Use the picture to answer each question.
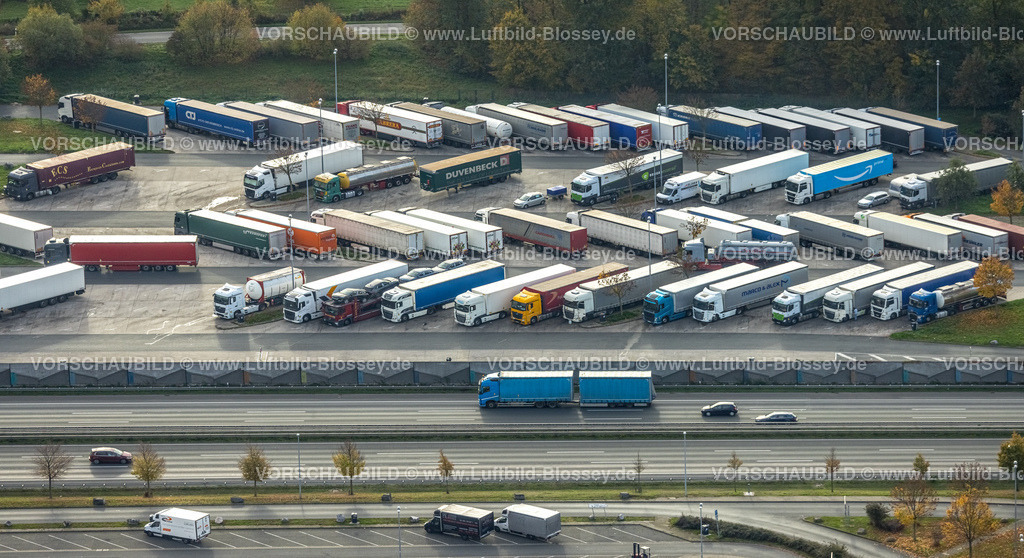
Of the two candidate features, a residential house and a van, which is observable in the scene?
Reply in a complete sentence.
Of the two, only a van appears.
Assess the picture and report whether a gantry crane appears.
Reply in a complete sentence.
No, there isn't any gantry crane down there.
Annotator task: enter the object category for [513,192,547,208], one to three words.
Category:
car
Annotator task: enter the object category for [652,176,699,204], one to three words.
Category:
van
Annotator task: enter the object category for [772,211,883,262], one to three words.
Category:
truck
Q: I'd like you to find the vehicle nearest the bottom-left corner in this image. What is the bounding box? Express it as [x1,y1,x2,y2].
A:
[90,449,132,464]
